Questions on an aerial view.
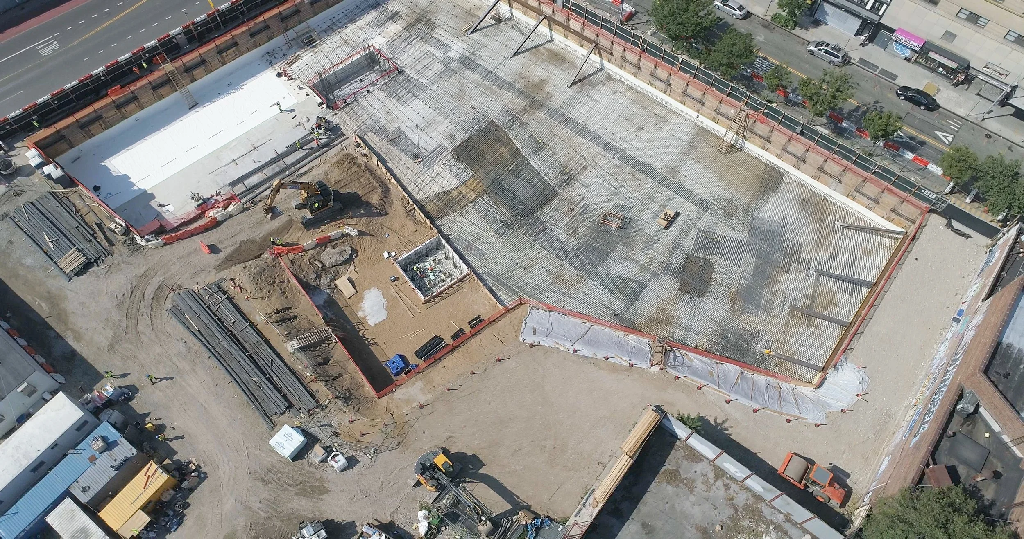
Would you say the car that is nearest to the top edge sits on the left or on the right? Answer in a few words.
right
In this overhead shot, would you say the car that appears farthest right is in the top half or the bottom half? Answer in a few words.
top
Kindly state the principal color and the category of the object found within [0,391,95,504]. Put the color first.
white trailer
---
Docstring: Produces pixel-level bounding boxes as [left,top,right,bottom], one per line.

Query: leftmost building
[0,329,57,435]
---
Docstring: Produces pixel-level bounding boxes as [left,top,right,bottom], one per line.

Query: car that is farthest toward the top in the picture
[714,2,751,23]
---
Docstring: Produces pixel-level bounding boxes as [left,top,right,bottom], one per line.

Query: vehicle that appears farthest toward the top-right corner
[899,90,940,116]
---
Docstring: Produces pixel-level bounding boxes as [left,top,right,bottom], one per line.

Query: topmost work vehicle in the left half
[263,172,343,223]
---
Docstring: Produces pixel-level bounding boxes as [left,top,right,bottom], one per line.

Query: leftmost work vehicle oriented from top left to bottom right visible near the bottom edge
[409,444,500,538]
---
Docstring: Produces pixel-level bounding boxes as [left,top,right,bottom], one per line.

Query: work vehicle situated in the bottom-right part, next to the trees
[784,458,851,511]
